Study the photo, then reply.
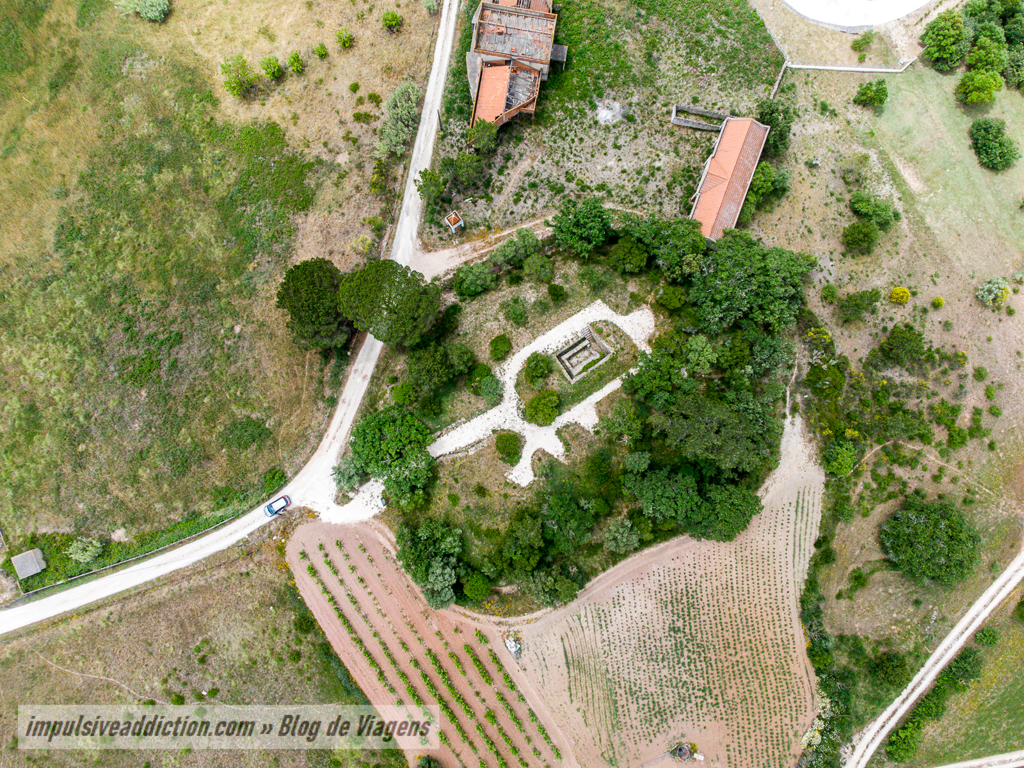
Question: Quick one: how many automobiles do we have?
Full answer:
There is 1 automobile in the image.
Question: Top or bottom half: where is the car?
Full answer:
The bottom half of the photo is where the car is.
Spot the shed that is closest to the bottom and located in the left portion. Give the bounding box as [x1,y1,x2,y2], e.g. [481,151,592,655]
[10,550,49,580]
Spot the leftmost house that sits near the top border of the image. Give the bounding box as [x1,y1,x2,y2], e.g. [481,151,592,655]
[467,0,568,136]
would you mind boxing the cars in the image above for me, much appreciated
[262,493,292,518]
